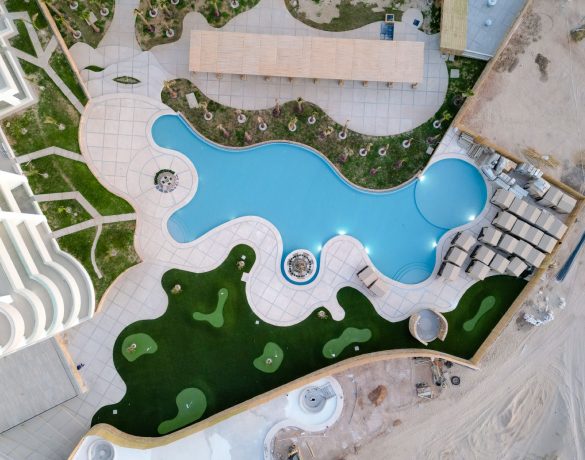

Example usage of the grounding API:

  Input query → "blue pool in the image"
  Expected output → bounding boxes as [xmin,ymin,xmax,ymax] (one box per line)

[147,109,491,290]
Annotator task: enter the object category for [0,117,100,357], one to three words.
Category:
building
